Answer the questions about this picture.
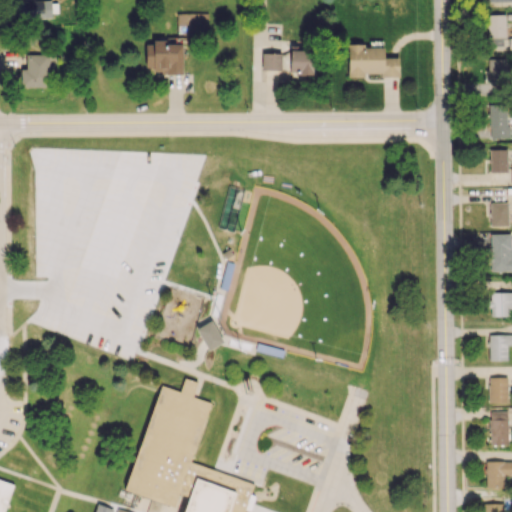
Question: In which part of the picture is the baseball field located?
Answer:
center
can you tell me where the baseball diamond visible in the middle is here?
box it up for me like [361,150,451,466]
[220,187,372,371]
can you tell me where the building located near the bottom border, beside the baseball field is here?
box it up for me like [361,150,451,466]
[126,379,256,512]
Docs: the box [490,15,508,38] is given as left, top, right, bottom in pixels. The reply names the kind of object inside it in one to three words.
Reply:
house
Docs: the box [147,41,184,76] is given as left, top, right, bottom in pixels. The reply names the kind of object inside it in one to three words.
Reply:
house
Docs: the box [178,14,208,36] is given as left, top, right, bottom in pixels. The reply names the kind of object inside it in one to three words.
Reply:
shed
